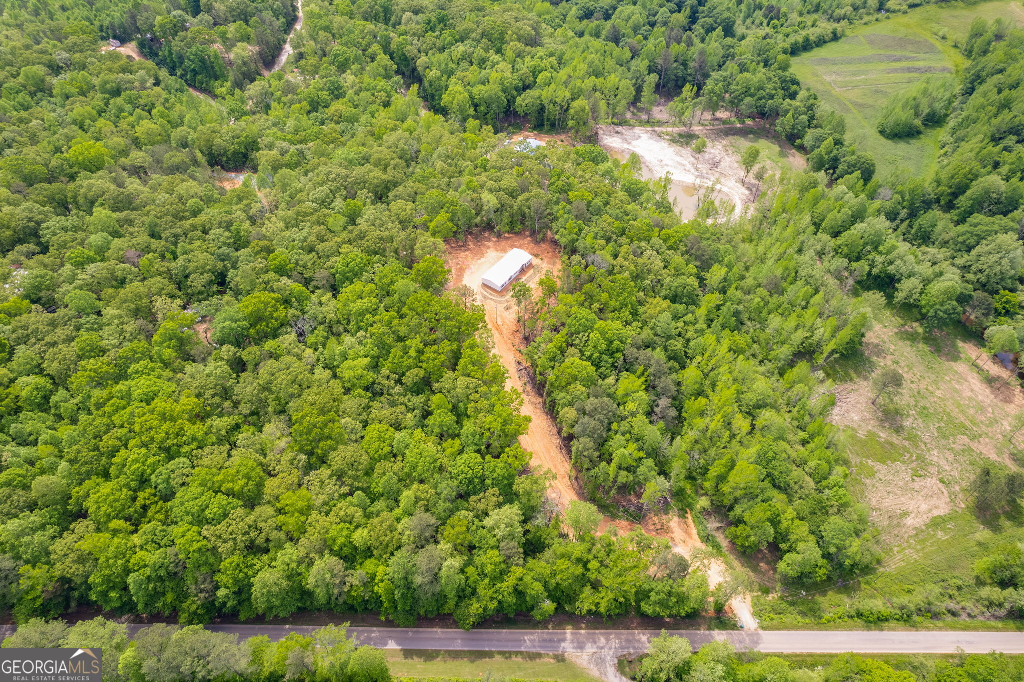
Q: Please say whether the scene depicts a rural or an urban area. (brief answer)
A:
rural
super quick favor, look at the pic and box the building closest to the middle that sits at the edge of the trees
[481,248,533,292]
